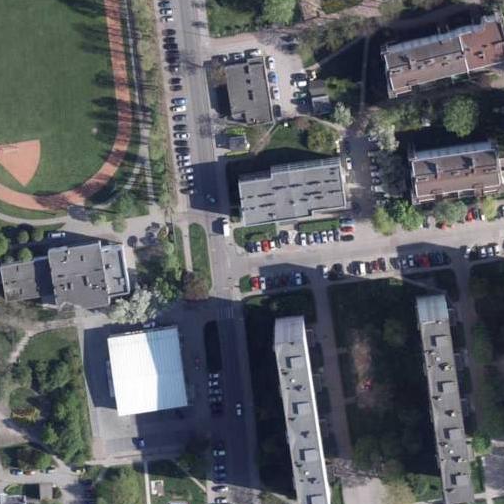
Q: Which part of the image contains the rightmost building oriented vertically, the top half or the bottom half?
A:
bottom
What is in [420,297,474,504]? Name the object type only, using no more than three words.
building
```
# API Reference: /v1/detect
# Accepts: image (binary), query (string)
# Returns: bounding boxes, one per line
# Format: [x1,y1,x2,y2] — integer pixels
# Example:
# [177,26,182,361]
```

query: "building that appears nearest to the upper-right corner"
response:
[383,12,504,96]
